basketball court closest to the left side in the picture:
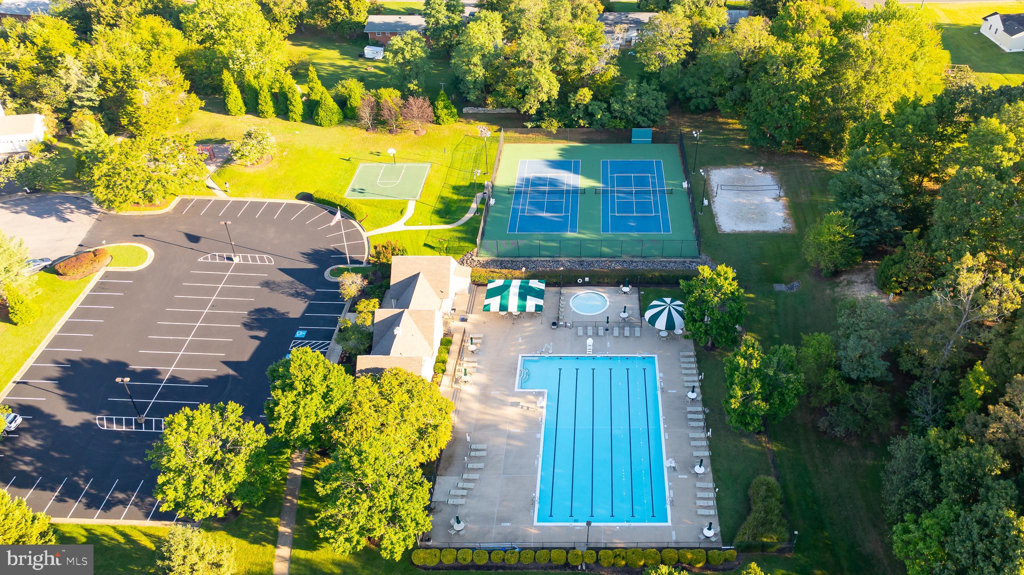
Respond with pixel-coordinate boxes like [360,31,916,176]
[346,162,431,200]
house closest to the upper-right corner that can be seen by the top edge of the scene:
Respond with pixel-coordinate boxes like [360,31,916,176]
[980,10,1024,52]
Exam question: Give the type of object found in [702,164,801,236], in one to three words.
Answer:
sports court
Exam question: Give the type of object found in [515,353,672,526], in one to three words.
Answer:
swimming pool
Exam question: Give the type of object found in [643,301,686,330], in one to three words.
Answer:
umbrella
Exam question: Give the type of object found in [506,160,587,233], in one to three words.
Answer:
tennis court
